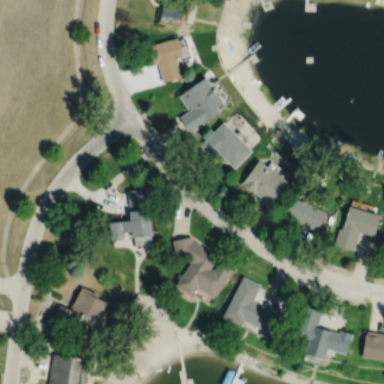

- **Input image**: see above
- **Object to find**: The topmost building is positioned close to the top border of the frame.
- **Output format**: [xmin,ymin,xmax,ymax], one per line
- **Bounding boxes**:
[160,6,184,26]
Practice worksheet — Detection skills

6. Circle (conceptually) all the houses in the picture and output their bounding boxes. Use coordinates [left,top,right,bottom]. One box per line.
[154,40,183,84]
[336,207,382,254]
[51,356,82,384]
[364,332,384,362]
[304,308,356,359]
[172,236,234,304]
[239,156,287,202]
[224,277,266,328]
[180,80,226,136]
[288,198,329,230]
[72,288,107,319]
[160,6,184,26]
[110,211,154,242]
[202,123,254,170]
